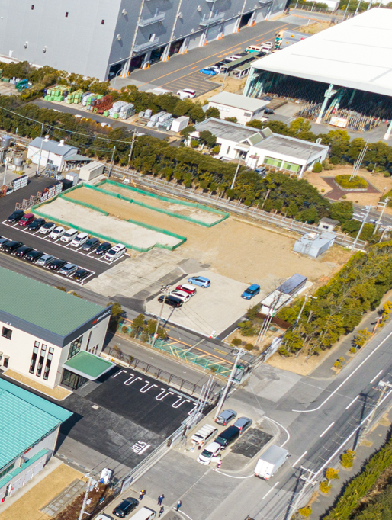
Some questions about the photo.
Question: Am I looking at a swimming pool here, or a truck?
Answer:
truck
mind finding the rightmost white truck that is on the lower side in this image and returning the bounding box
[250,441,292,480]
